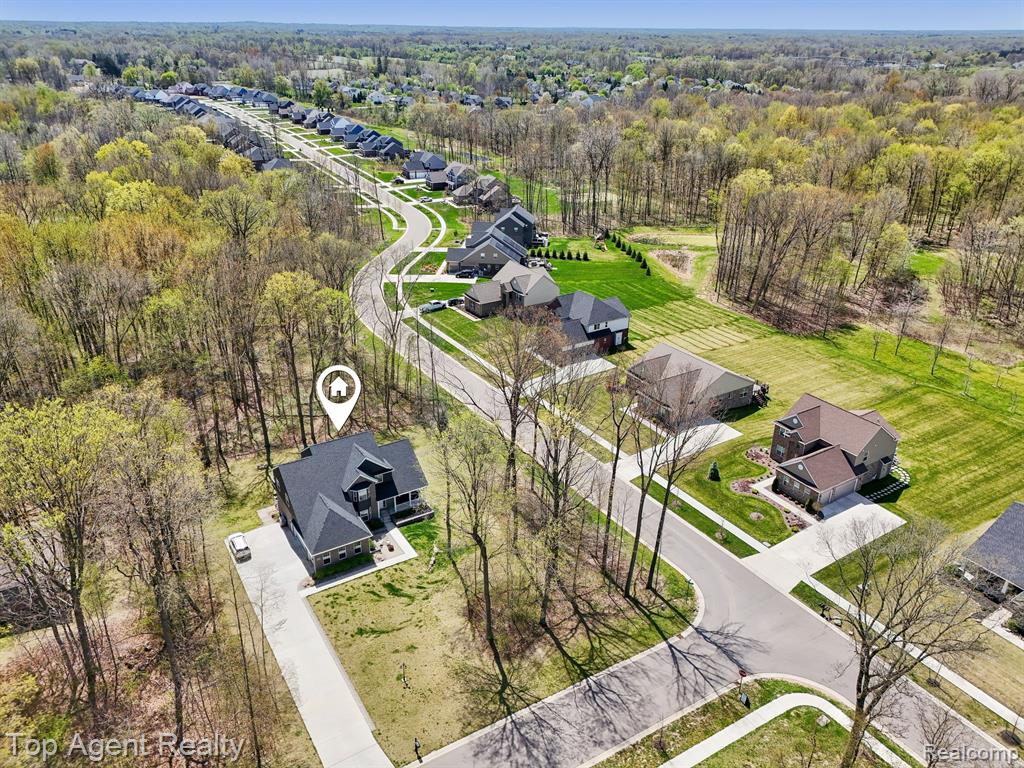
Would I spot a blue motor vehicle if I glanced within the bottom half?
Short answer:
No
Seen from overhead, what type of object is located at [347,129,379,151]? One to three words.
house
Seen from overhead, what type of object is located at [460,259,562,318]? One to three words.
house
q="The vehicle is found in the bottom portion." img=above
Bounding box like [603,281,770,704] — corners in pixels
[229,536,254,562]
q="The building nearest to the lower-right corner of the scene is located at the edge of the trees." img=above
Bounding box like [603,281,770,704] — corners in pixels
[958,504,1024,624]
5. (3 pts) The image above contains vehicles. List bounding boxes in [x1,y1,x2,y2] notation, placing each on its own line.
[445,297,463,306]
[419,195,433,201]
[455,271,475,279]
[420,300,445,310]
[229,536,254,562]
